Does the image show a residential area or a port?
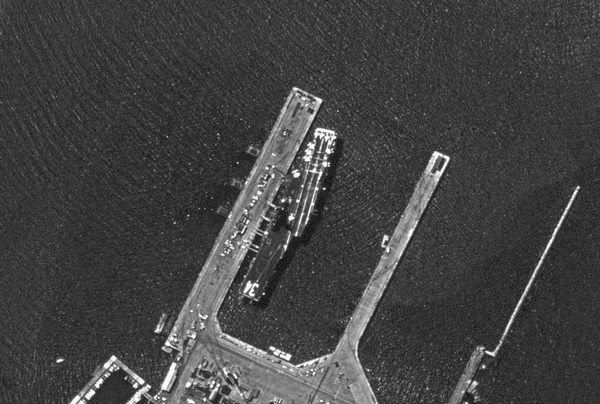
port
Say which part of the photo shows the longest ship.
center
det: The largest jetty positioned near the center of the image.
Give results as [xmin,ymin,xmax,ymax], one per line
[163,87,322,352]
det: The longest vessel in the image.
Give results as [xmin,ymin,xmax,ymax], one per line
[239,127,338,301]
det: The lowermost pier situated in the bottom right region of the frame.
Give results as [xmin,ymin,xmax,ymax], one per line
[449,347,485,404]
